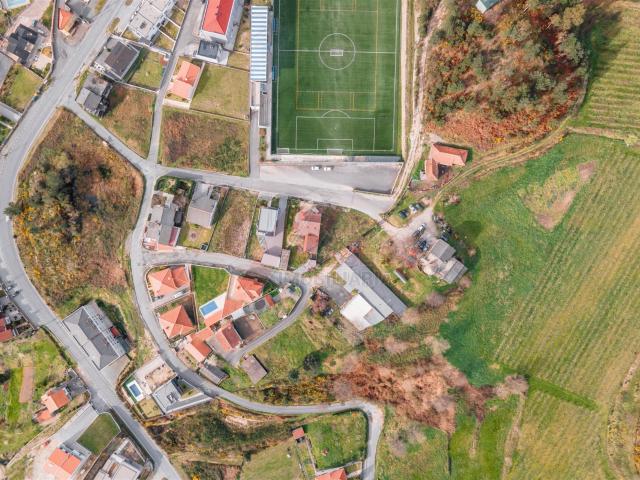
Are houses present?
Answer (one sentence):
Yes, there's a house down there.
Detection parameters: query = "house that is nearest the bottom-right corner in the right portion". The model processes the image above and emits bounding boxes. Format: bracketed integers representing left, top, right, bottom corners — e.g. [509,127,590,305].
[441,257,468,284]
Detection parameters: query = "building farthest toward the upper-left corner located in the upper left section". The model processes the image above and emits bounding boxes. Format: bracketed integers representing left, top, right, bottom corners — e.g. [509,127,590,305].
[8,24,45,62]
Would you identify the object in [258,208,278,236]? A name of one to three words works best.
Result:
shed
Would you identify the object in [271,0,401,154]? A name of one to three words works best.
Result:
soccer field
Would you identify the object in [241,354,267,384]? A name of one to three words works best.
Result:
barn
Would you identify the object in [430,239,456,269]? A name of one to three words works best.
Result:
house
